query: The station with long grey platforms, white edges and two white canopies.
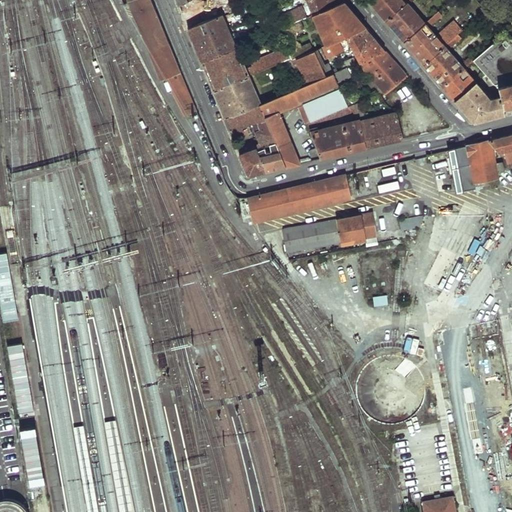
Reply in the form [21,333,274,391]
[20,240,264,512]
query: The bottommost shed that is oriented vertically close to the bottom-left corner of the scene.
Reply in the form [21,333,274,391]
[19,430,44,490]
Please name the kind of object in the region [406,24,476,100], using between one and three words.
house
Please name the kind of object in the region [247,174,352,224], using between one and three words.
building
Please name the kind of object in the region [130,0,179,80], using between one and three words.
building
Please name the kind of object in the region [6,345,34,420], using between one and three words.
shed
